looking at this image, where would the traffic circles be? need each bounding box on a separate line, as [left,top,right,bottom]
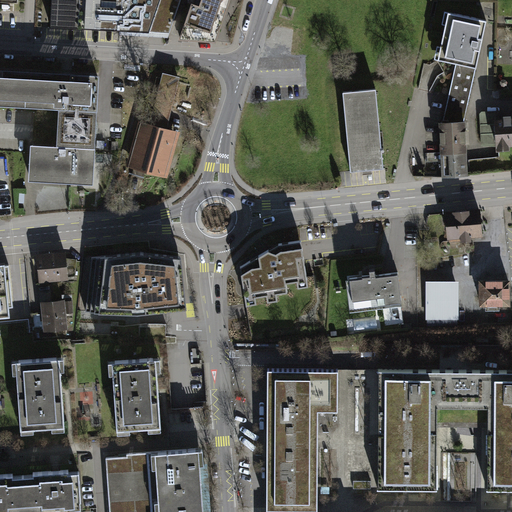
[164,172,262,266]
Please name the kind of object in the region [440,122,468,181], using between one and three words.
house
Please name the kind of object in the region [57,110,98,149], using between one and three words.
building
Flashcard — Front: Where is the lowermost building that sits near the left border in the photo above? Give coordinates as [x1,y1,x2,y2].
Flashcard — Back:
[0,466,82,512]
